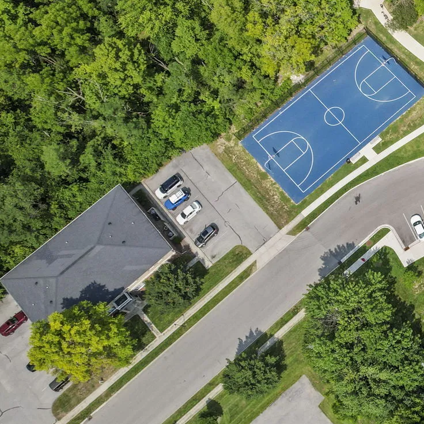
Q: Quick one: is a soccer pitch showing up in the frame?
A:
No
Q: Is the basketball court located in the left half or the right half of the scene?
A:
right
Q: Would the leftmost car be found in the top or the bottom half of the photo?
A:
bottom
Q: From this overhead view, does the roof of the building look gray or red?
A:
gray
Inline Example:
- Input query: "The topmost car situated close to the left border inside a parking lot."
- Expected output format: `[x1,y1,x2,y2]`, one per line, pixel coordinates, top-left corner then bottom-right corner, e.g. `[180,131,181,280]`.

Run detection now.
[0,310,25,335]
